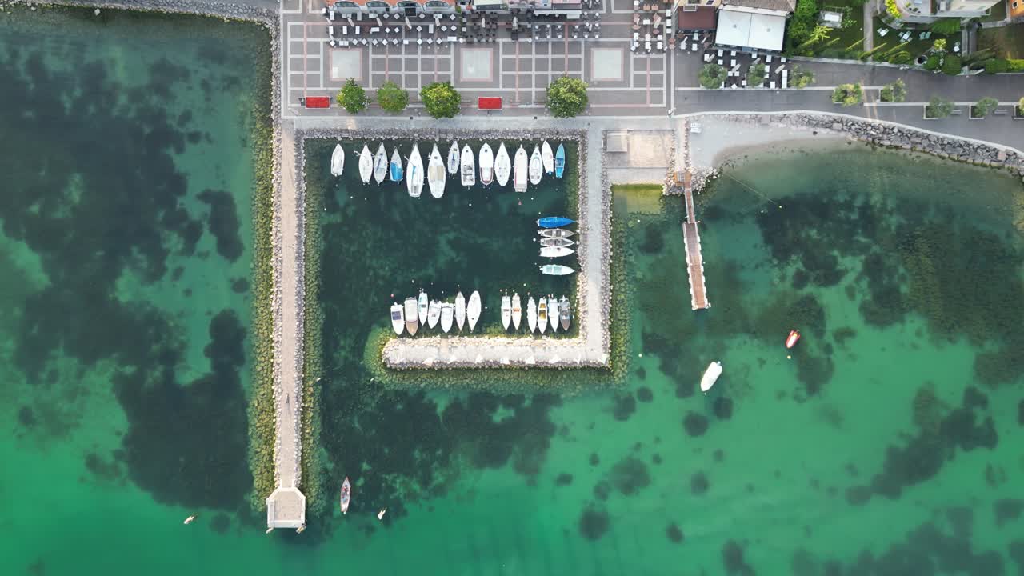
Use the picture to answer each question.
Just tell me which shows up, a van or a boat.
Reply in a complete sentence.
Of the two, only a boat appears.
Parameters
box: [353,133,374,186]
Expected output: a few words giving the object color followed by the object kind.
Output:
white boat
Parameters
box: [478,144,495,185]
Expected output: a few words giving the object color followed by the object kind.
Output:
white boat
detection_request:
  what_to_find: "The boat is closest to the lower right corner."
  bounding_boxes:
[786,330,801,348]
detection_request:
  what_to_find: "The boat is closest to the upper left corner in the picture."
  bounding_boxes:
[331,140,345,178]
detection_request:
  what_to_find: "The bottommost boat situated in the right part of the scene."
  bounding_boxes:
[702,361,721,391]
